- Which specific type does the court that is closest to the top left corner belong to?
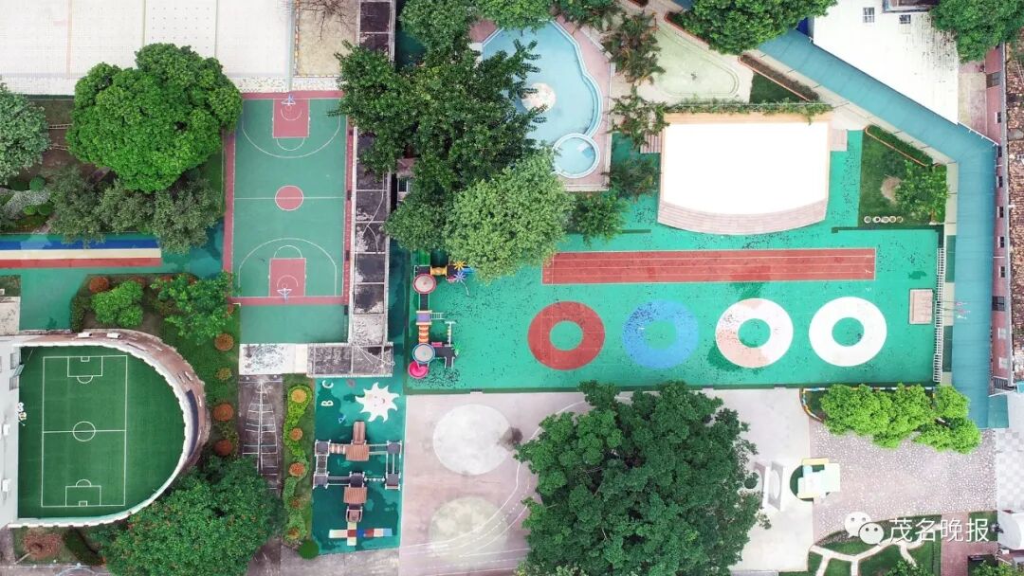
basketball court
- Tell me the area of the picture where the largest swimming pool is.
top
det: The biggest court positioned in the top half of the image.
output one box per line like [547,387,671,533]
[222,92,353,344]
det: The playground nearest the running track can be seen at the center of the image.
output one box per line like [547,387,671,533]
[409,251,474,380]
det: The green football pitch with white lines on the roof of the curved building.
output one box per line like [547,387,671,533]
[41,356,127,507]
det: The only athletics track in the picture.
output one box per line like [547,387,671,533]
[543,247,876,285]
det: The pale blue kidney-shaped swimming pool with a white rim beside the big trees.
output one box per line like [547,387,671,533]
[480,18,603,164]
